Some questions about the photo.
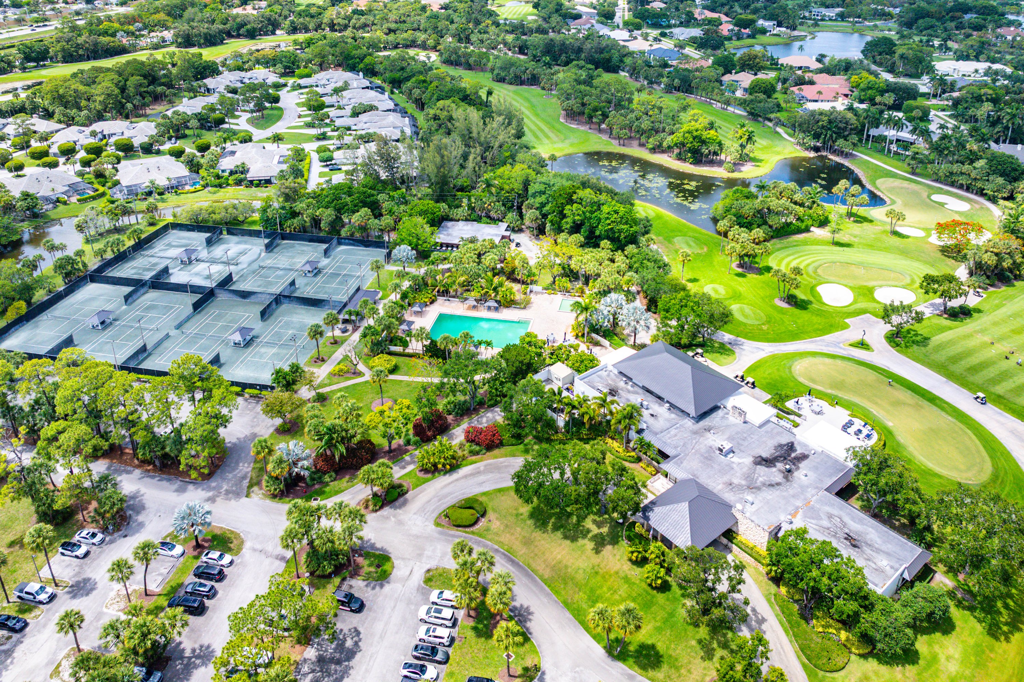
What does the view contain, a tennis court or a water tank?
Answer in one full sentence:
The image shows a tennis court.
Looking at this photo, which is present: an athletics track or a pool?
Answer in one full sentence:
I can see a pool in this picture.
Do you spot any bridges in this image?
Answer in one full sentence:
No, the scene contains no bridge.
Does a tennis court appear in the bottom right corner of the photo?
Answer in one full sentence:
No, there's no tennis court to be seen in the bottom right corner of the photo.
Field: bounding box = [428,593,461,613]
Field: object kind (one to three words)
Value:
car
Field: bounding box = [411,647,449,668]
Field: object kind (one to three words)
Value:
car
